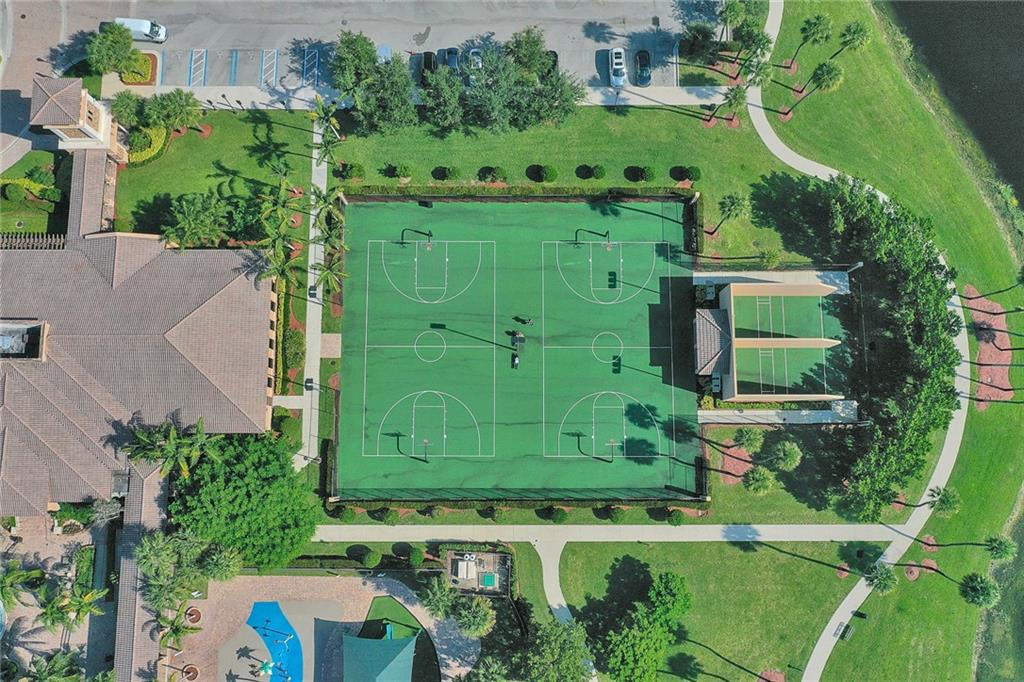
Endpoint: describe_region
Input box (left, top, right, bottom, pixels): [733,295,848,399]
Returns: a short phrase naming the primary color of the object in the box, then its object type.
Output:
green sports court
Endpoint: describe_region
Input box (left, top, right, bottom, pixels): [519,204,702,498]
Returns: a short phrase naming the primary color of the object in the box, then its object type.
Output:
green basketball court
